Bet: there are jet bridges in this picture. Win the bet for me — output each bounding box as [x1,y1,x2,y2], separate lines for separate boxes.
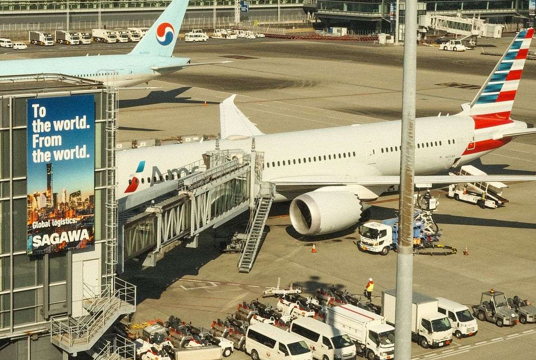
[415,11,497,48]
[105,133,274,278]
